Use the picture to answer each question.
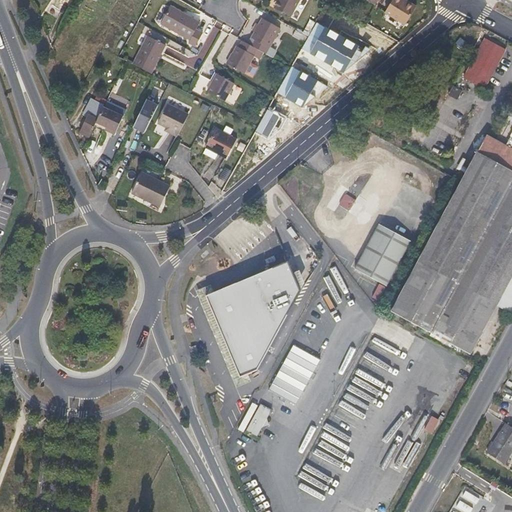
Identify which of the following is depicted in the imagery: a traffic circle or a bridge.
traffic circle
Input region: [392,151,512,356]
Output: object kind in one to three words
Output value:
warehouse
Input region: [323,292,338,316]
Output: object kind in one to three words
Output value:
vehicle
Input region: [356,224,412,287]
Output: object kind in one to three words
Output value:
building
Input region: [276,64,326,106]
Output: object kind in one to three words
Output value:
house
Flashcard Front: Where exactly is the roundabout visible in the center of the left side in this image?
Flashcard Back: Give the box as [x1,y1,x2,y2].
[6,201,208,398]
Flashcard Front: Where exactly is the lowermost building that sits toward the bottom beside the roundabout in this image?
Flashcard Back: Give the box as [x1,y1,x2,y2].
[194,263,304,388]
